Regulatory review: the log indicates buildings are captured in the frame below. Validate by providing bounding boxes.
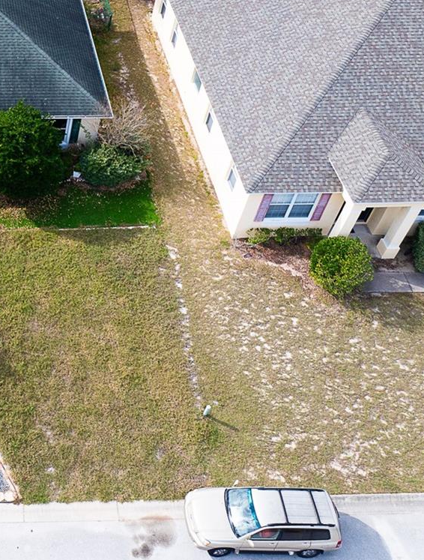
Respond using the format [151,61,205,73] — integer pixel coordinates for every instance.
[0,0,115,153]
[157,0,424,258]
